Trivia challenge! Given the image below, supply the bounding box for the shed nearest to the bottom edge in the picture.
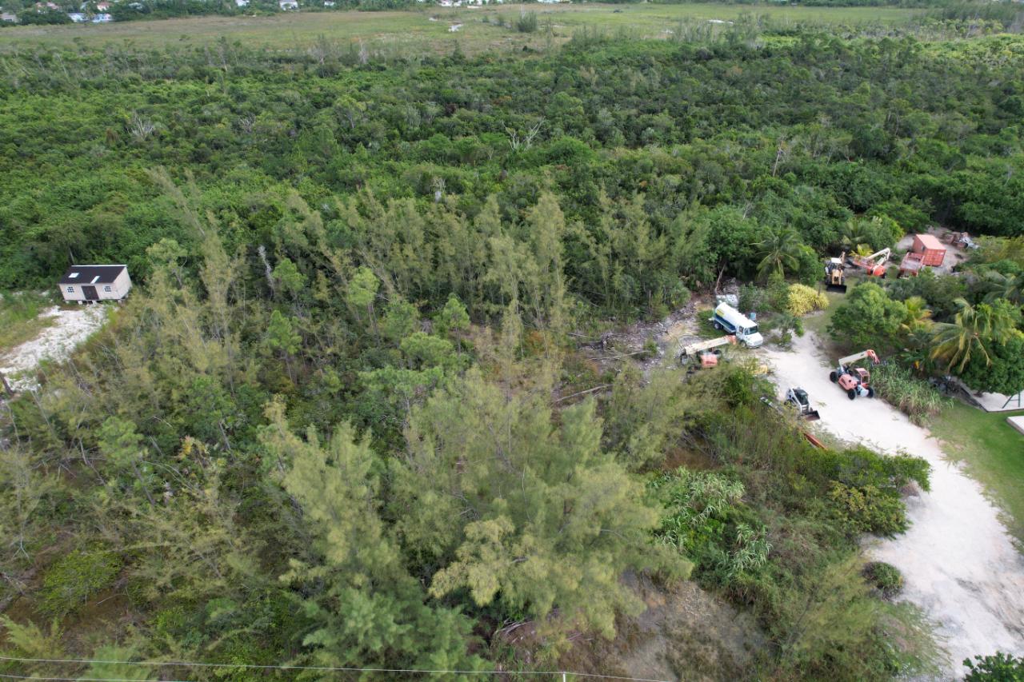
[53,260,131,306]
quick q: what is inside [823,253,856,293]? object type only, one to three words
work vehicle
